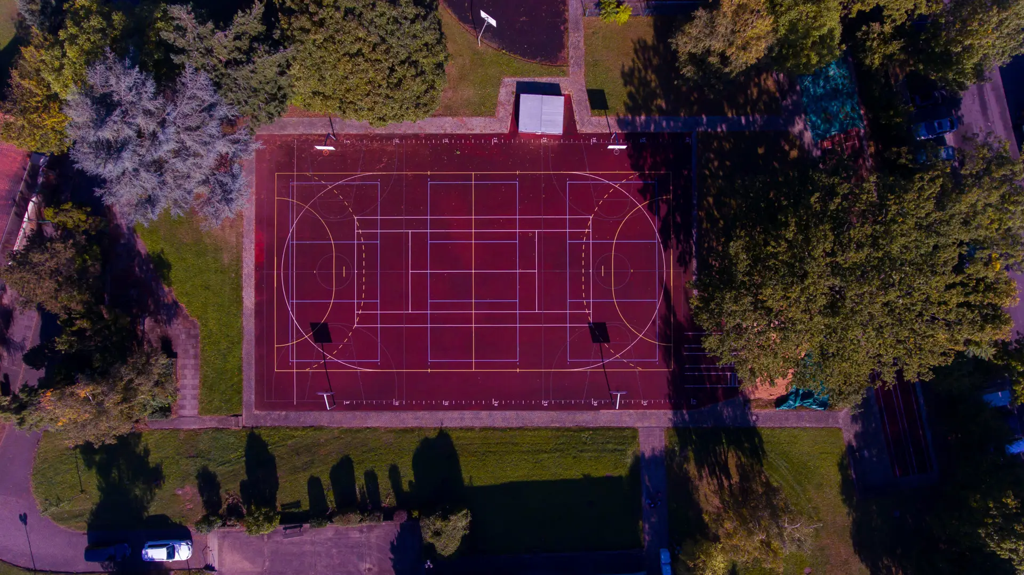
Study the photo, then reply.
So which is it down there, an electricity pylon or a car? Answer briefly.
car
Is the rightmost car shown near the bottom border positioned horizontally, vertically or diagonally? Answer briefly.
horizontally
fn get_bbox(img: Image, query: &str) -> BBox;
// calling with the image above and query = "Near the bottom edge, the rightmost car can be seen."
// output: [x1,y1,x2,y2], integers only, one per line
[143,538,193,562]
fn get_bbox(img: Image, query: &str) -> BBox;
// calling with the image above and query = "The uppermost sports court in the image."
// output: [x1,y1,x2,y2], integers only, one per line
[444,0,568,66]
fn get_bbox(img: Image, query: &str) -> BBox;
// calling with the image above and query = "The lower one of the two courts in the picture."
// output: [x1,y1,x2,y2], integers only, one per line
[255,95,747,410]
